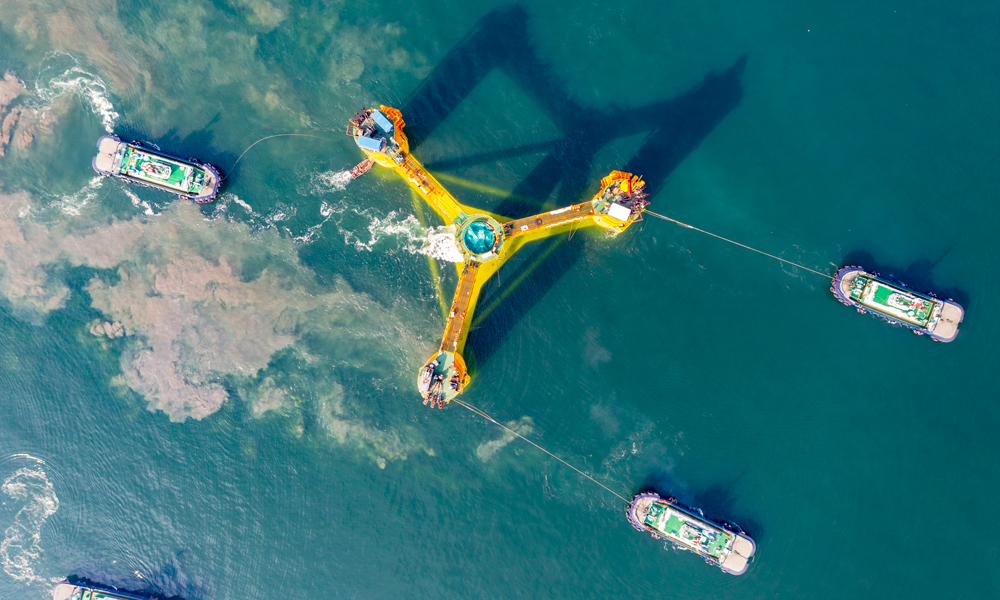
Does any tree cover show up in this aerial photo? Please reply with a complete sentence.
No, tree cover can't be seen anywhere here.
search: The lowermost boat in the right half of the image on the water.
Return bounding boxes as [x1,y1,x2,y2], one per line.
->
[625,496,754,577]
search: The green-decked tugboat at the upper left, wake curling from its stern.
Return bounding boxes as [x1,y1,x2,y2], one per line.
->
[96,136,224,201]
